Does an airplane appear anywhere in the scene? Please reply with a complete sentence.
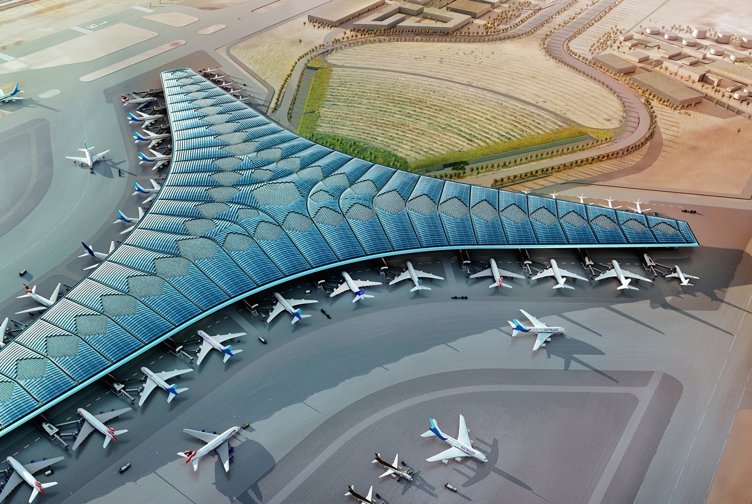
Yes, I can see an airplane in this picture.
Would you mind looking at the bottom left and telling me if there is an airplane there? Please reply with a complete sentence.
Yes, an airplane appears at the bottom left.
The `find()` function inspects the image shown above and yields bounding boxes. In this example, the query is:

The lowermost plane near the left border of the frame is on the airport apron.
[1,459,65,504]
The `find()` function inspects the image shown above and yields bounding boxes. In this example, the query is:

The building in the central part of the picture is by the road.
[0,65,706,433]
